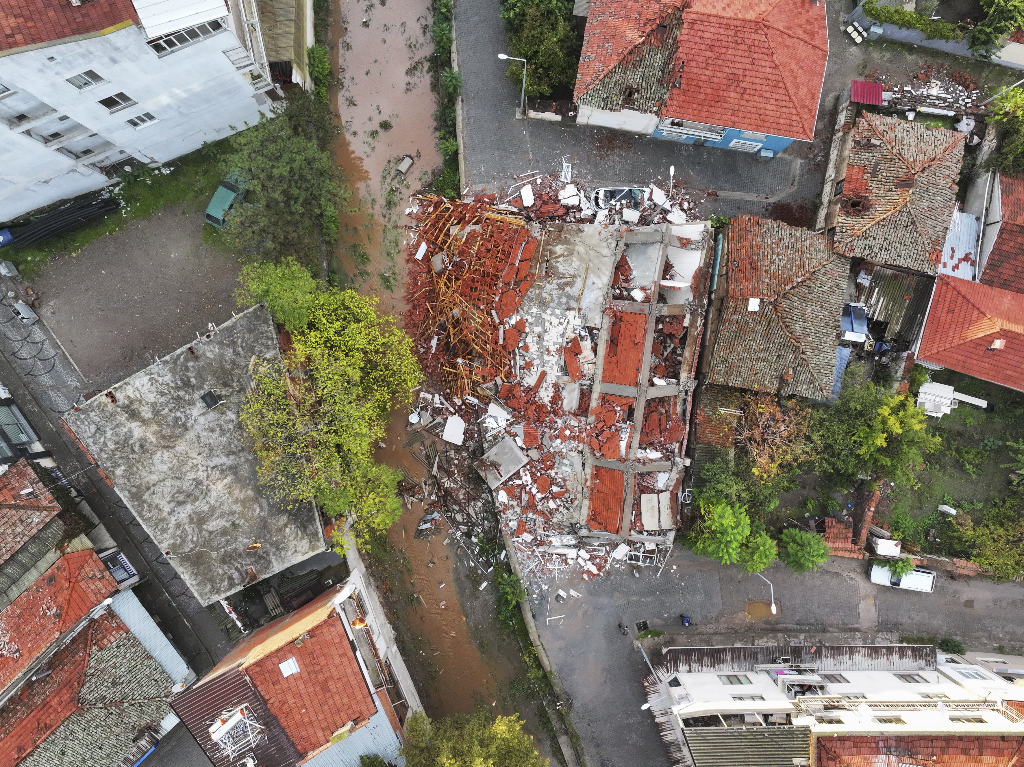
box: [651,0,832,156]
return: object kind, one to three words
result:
house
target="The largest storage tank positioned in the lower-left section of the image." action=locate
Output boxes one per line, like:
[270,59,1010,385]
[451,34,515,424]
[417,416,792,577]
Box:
[210,708,244,743]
